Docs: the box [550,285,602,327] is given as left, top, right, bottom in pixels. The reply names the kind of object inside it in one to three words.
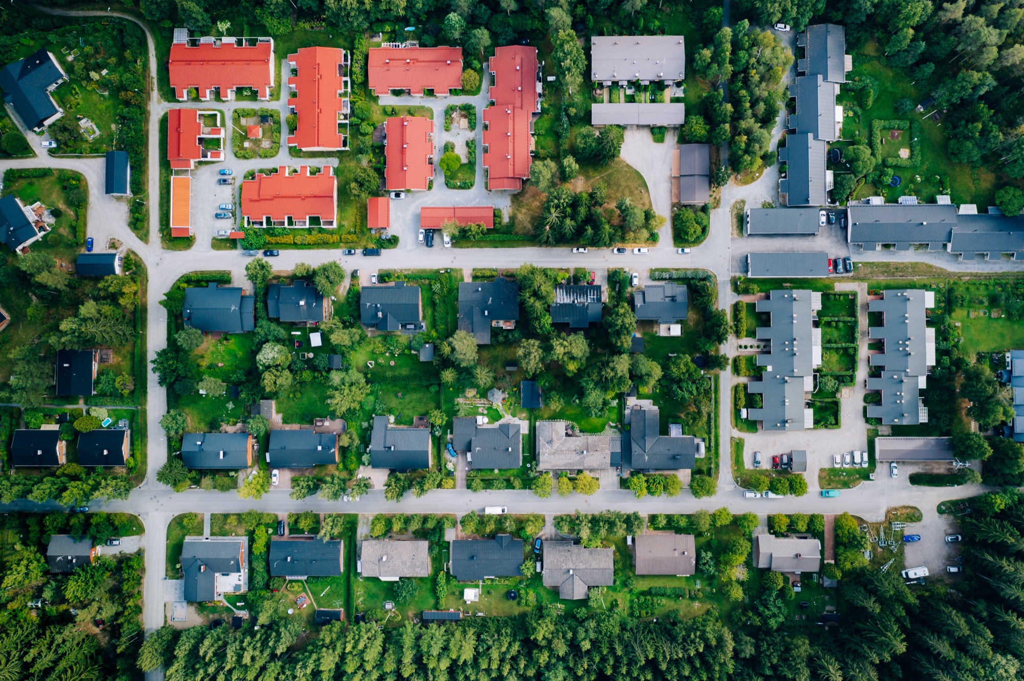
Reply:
house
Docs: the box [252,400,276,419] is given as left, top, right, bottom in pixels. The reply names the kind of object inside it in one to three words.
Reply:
shed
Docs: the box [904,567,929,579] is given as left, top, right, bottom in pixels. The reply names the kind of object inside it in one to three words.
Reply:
vehicle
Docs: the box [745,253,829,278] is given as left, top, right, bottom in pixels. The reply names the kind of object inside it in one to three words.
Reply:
building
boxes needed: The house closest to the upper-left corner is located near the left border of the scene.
[0,47,71,131]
